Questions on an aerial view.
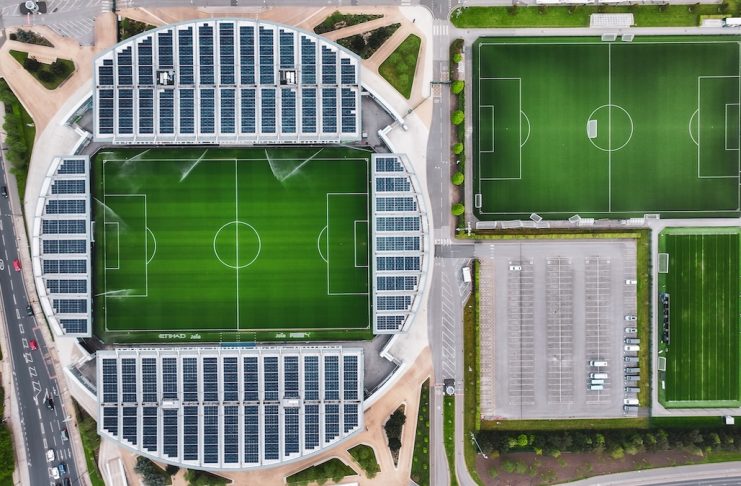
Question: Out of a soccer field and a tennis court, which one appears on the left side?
soccer field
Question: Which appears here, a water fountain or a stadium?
stadium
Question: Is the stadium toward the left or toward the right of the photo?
left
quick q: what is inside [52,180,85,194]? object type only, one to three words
solar array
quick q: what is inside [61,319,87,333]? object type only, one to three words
solar array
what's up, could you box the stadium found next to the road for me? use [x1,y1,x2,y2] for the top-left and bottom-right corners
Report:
[27,17,432,471]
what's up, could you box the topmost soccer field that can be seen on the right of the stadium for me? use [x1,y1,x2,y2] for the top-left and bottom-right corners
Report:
[473,36,741,220]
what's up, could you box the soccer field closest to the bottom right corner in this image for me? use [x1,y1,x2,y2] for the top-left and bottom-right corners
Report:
[659,226,741,409]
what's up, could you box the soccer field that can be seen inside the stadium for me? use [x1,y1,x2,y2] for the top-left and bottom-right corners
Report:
[91,145,373,345]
